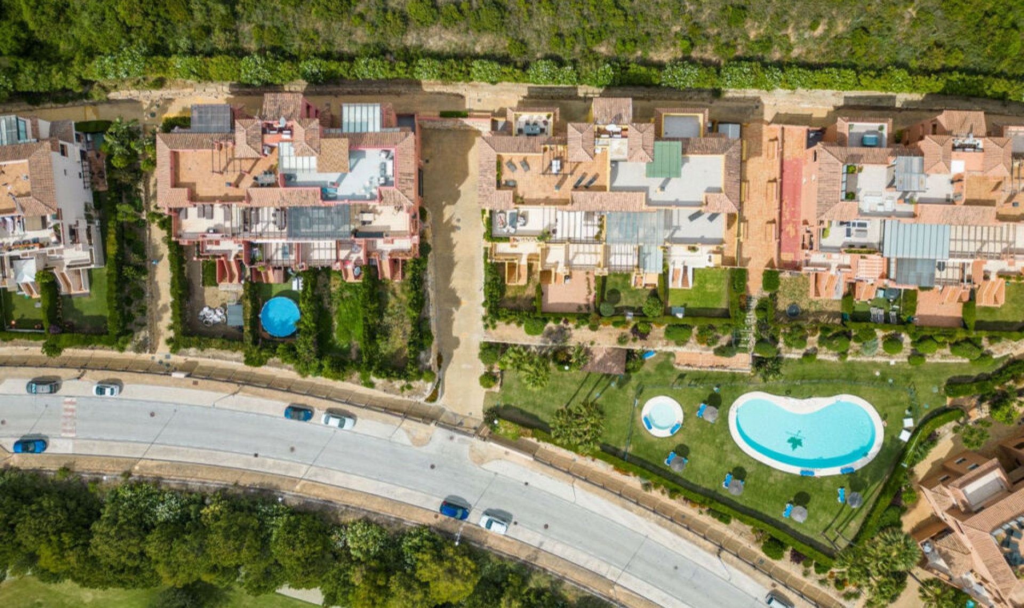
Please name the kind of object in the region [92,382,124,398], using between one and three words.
car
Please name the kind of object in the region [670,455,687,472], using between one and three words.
umbrella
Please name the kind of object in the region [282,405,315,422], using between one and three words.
car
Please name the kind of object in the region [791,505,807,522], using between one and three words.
umbrella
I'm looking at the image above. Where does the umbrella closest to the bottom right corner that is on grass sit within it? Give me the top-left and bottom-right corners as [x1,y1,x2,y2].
[846,491,863,508]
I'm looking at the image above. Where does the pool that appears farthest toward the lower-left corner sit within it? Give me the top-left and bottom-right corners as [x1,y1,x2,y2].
[261,296,301,338]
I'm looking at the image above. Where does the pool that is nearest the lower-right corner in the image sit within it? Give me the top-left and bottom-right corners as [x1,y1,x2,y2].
[729,391,884,476]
